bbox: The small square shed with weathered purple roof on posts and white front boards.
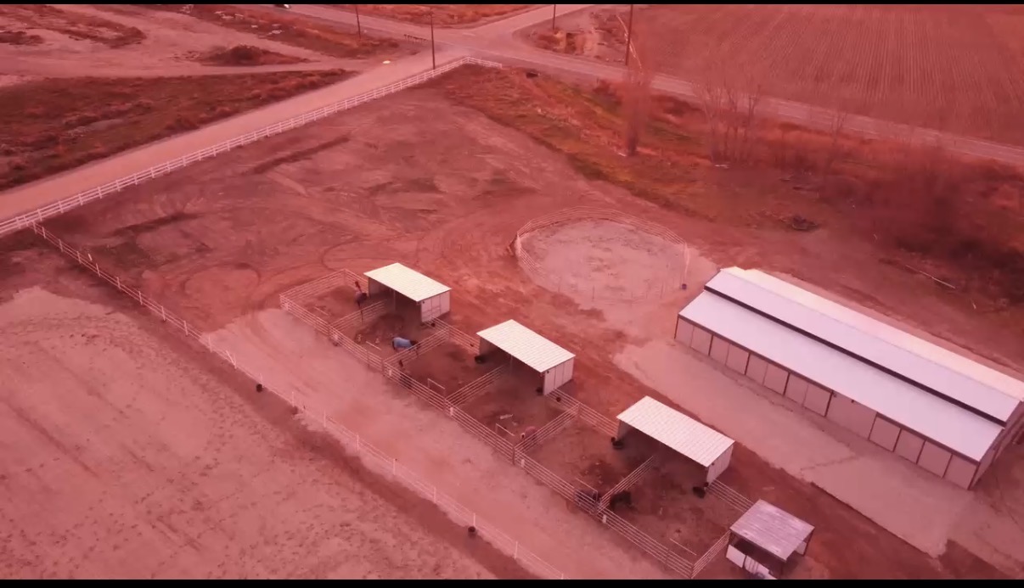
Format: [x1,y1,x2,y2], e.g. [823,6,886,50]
[727,499,803,574]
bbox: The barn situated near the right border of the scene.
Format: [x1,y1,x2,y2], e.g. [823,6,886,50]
[677,266,1024,489]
